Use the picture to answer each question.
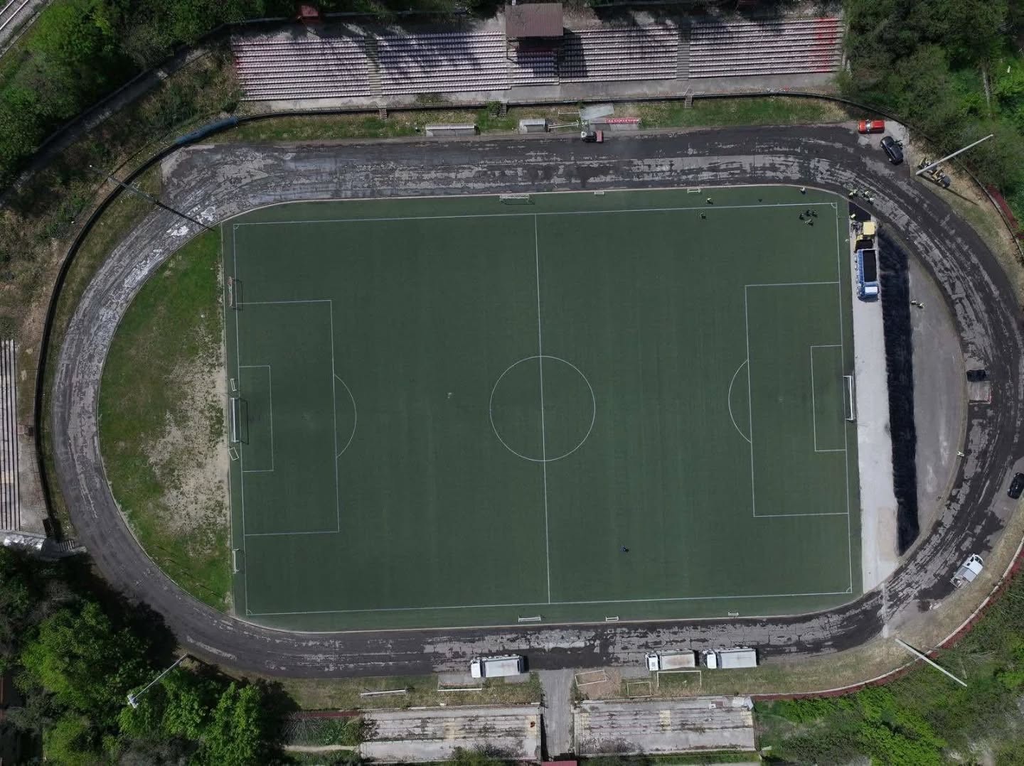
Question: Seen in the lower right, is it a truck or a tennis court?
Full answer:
Looking in the lower right, you will find a truck.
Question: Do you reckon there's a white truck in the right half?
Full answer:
Yes, you'll find a white truck in the right half.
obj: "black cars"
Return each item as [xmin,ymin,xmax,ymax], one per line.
[882,138,902,165]
[1007,472,1024,499]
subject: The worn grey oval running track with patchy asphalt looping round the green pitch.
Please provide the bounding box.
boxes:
[52,119,1024,678]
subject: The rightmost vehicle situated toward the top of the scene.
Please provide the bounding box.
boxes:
[919,163,951,192]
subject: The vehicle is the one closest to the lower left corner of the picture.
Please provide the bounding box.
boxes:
[470,653,525,678]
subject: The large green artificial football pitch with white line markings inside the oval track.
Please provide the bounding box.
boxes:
[221,186,863,632]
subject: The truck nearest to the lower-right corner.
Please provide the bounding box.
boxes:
[947,553,983,591]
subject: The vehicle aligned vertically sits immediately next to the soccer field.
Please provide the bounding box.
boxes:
[854,248,879,298]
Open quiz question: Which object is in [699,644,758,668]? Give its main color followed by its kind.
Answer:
white truck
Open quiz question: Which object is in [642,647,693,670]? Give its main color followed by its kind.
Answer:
white truck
